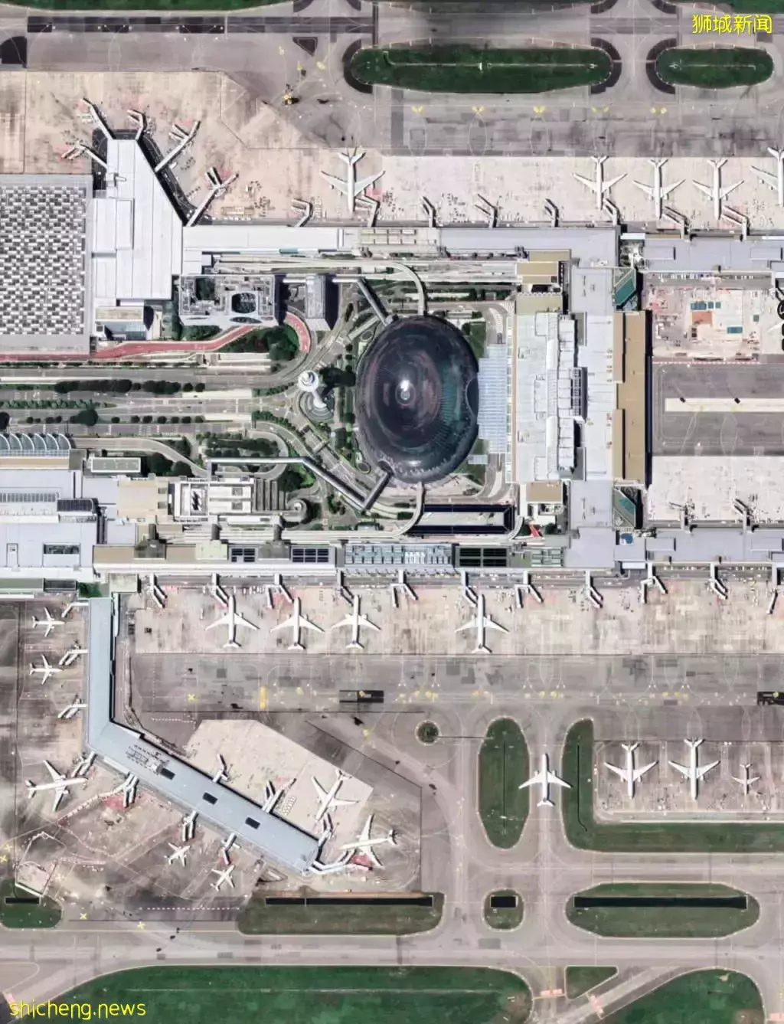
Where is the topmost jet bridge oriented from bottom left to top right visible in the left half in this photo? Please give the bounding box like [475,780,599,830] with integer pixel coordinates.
[156,121,202,173]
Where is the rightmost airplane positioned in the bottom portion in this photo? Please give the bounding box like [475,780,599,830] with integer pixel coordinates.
[731,764,760,796]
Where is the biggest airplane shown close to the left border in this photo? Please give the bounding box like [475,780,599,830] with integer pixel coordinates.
[26,760,86,810]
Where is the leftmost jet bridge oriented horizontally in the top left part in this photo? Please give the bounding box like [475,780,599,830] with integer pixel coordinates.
[60,143,107,169]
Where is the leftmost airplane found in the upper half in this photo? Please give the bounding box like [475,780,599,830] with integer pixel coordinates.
[318,146,383,214]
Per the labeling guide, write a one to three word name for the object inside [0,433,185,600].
building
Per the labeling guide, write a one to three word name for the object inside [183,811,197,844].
jet bridge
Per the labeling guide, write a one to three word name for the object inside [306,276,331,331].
building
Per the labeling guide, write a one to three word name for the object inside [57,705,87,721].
jet bridge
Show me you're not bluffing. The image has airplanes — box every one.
[691,156,742,219]
[270,598,322,650]
[751,143,784,206]
[310,771,356,820]
[519,754,571,806]
[164,846,189,868]
[573,153,626,210]
[29,656,63,684]
[209,865,234,892]
[331,595,380,648]
[318,146,383,214]
[26,760,86,810]
[205,596,258,648]
[341,813,394,867]
[603,739,657,799]
[454,594,507,653]
[630,156,684,218]
[731,764,760,796]
[668,735,720,800]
